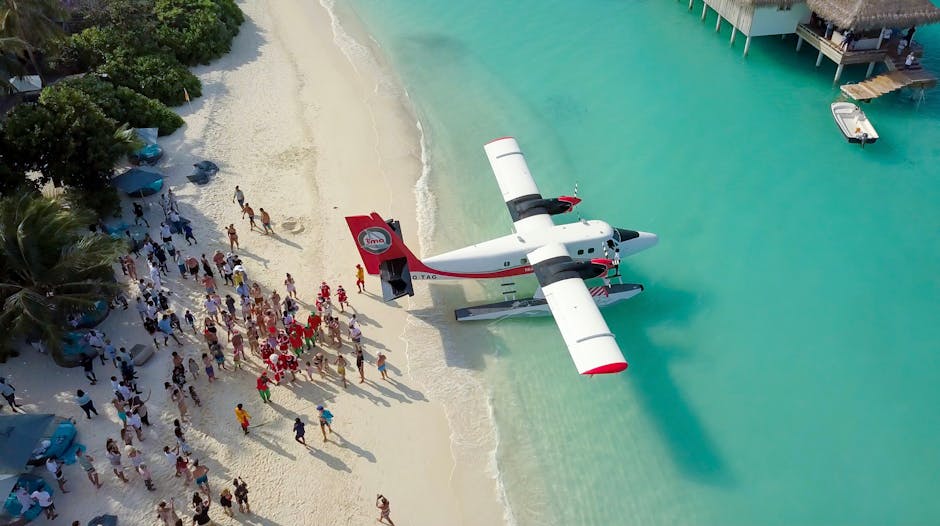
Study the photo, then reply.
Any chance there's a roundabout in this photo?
No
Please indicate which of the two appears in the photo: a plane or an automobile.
plane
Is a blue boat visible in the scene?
No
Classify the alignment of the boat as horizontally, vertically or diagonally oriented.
diagonally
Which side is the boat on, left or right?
right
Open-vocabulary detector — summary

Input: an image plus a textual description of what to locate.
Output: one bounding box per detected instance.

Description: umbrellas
[135,129,169,164]
[0,408,58,476]
[107,167,168,211]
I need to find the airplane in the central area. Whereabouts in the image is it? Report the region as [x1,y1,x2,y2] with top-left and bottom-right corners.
[345,137,658,373]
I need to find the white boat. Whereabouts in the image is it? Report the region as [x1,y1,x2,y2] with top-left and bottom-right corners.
[832,98,879,147]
